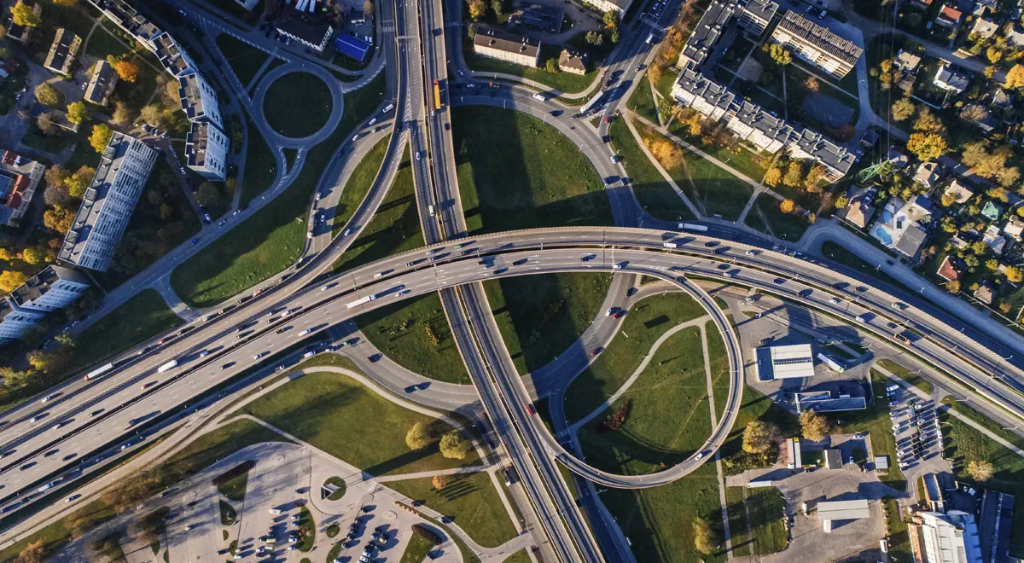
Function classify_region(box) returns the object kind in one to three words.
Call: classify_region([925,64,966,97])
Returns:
house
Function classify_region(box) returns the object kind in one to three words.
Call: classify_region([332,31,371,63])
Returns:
shed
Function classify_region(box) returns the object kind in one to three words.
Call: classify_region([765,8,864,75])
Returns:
building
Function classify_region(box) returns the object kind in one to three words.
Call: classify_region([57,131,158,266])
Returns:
building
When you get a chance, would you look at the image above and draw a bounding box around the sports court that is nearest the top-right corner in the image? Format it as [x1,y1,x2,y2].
[803,91,851,126]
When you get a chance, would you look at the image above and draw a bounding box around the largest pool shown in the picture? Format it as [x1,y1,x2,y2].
[875,226,894,246]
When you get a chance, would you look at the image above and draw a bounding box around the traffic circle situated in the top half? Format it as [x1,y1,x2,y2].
[251,58,345,152]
